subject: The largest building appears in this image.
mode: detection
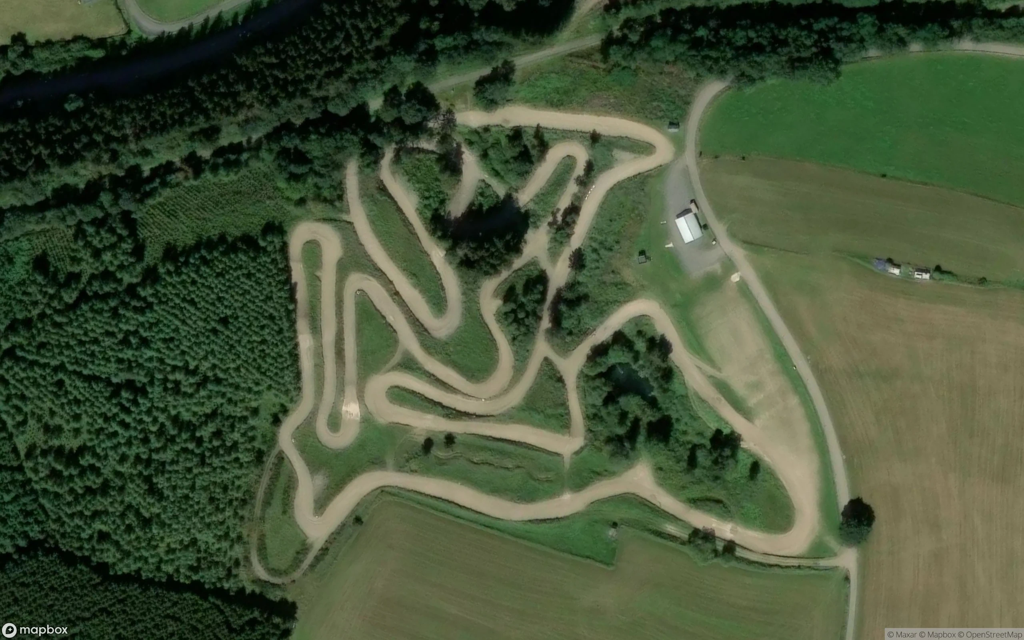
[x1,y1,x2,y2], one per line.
[674,212,704,244]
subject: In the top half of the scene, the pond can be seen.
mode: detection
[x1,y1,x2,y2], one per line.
[455,201,523,244]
